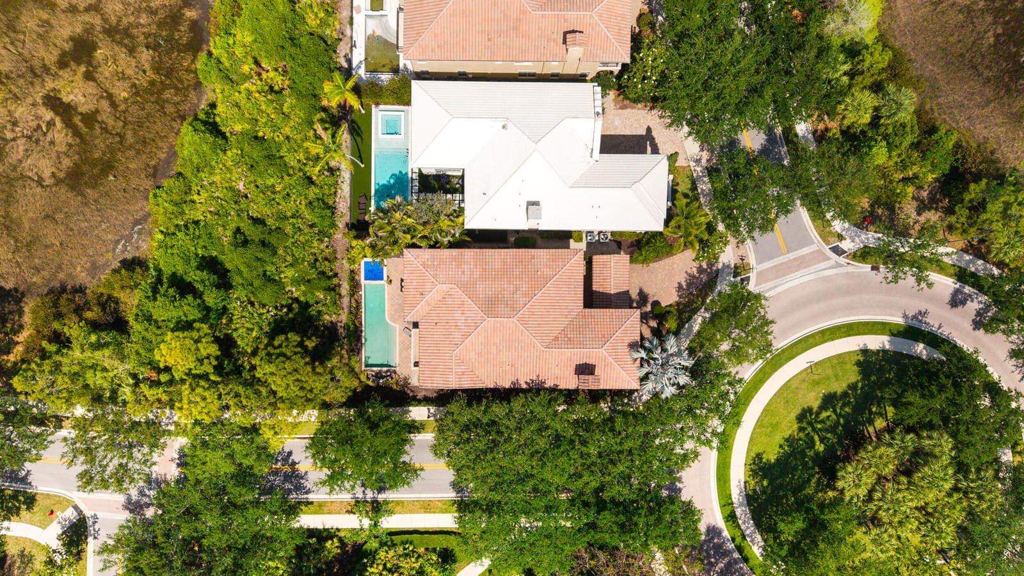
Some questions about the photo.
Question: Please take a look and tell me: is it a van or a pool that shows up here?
pool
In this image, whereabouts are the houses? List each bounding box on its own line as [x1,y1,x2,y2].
[410,79,675,231]
[403,0,632,79]
[402,248,641,391]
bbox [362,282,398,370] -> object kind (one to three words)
swimming pool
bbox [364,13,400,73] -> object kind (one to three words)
swimming pool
